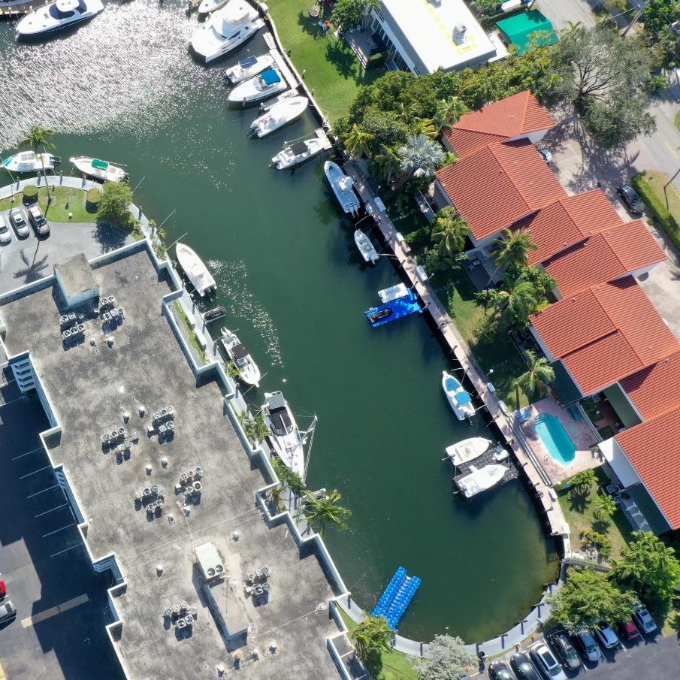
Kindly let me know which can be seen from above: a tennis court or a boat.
boat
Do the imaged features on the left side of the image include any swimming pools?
No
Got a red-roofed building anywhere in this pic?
Yes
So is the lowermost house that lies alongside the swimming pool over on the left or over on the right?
right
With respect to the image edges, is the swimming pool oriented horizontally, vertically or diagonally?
diagonally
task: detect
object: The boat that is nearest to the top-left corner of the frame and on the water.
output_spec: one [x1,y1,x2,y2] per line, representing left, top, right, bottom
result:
[16,0,110,36]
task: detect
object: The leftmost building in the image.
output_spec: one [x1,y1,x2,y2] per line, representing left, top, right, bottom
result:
[0,237,376,680]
